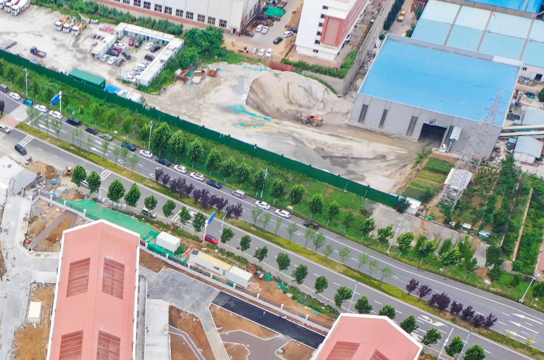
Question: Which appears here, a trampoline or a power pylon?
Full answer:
The image shows a power pylon.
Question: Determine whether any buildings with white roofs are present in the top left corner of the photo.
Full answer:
Yes, a building with a white roof appears in the top left corner of the photo.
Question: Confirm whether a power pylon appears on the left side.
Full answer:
No, I see no power pylon on the left side.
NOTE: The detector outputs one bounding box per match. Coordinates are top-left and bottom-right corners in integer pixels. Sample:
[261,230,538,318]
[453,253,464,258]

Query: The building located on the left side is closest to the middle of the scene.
[190,250,233,280]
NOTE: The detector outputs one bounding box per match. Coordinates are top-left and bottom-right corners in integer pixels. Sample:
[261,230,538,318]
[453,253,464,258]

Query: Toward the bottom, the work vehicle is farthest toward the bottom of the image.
[243,262,266,278]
